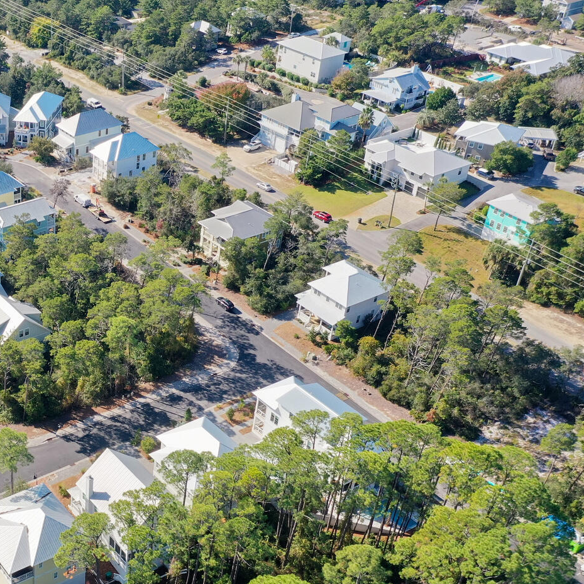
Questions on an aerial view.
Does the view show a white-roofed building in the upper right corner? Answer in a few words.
Yes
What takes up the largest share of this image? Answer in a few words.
trees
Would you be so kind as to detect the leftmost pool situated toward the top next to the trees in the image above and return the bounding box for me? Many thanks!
[343,61,360,74]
